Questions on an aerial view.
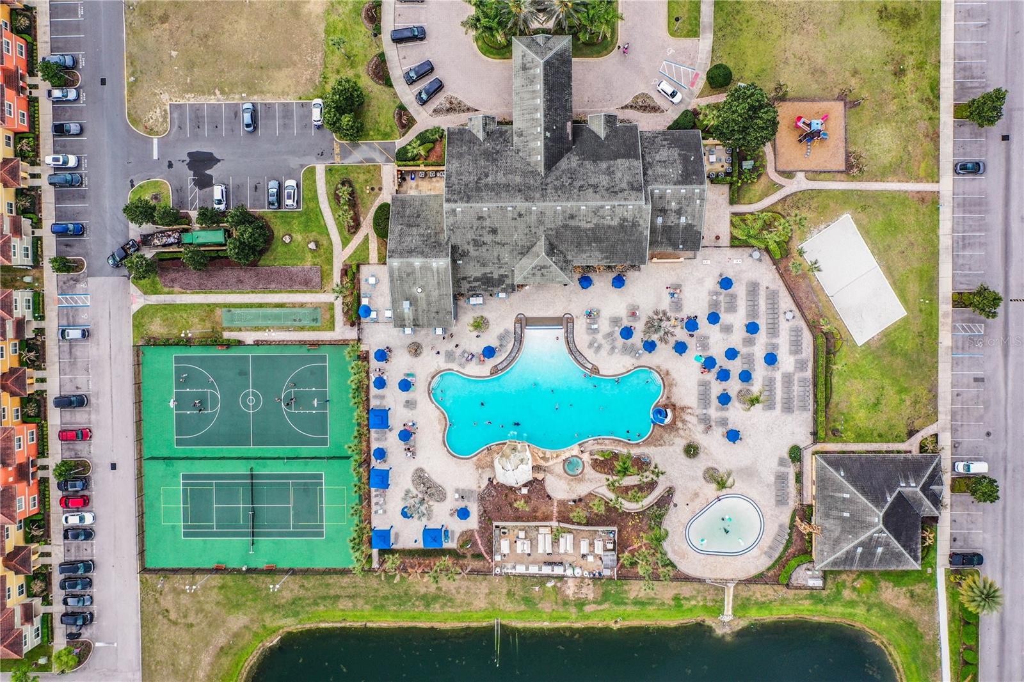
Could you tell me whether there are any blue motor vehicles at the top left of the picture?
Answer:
Yes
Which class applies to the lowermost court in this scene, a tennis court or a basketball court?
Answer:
tennis court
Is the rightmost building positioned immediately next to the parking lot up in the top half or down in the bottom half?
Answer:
top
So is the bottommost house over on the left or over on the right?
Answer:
left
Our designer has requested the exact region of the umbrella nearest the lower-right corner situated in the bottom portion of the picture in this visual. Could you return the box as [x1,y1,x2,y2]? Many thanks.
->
[726,429,739,442]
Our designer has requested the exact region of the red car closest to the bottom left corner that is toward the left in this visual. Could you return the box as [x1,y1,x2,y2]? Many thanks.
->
[61,495,92,510]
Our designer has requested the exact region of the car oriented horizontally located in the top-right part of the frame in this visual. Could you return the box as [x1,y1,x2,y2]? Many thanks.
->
[953,160,983,175]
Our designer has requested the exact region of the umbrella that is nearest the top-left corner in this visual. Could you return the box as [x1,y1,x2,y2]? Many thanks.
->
[359,305,371,318]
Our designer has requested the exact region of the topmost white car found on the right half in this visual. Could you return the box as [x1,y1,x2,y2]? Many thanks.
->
[655,79,682,105]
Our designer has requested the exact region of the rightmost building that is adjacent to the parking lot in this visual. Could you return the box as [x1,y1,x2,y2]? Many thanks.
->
[387,30,707,327]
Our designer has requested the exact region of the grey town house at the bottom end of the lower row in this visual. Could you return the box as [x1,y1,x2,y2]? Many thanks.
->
[0,600,42,665]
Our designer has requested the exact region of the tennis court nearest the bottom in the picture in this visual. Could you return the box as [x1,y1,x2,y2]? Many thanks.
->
[144,457,355,568]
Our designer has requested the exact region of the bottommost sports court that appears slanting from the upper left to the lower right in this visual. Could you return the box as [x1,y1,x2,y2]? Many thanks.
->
[799,213,907,346]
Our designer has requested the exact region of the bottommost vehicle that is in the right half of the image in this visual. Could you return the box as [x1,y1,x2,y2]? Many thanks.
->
[947,552,983,569]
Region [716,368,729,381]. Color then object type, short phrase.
blue umbrella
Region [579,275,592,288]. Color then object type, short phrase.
blue umbrella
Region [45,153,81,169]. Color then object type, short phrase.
white car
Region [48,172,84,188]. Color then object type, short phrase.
blue car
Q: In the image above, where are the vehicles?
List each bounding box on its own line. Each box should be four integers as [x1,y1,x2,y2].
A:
[952,460,991,476]
[390,25,426,44]
[284,179,299,210]
[59,326,91,342]
[59,575,95,592]
[266,180,282,210]
[61,495,92,510]
[404,60,436,84]
[241,103,257,133]
[58,559,97,576]
[212,183,229,212]
[310,99,325,127]
[953,160,983,175]
[106,238,144,268]
[48,172,84,188]
[62,592,95,608]
[51,221,87,236]
[63,511,97,526]
[53,121,85,137]
[65,634,80,640]
[947,552,983,569]
[45,153,81,169]
[47,87,81,103]
[52,393,90,409]
[655,79,682,105]
[64,526,97,542]
[415,78,445,104]
[60,610,96,627]
[57,477,90,493]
